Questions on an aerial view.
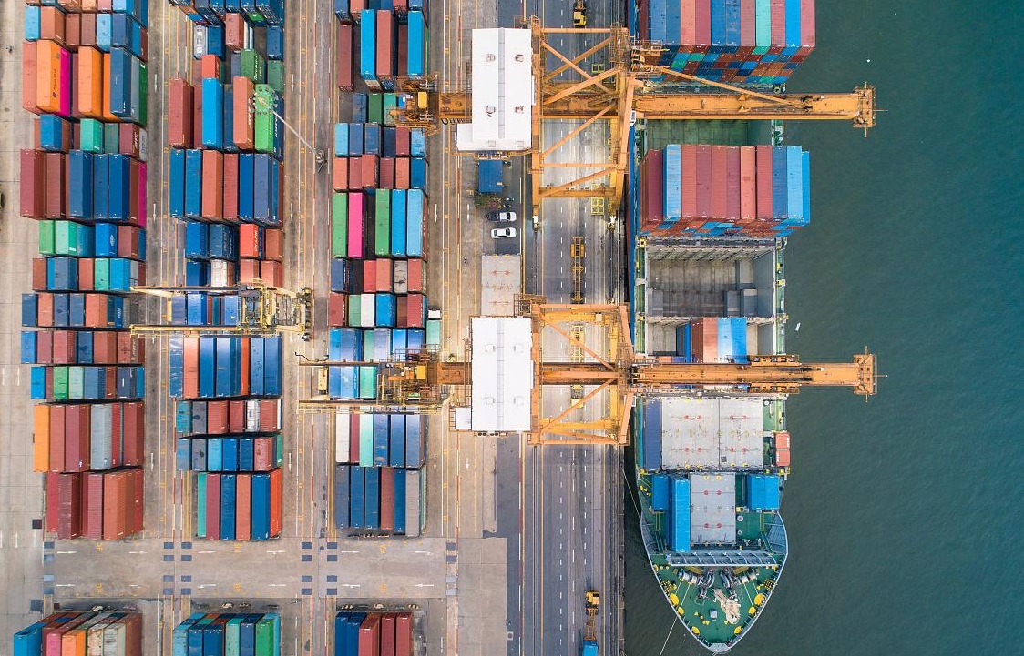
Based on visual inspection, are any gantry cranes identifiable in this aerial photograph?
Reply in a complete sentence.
Yes, a gantry crane can be made out from above.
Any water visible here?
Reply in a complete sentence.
Yes, the picture does contain water.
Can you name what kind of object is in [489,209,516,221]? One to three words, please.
vehicle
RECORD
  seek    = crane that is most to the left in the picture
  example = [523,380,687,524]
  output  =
[132,284,310,342]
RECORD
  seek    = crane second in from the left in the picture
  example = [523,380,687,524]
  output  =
[299,357,458,414]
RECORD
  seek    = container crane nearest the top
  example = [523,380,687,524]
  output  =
[391,8,890,241]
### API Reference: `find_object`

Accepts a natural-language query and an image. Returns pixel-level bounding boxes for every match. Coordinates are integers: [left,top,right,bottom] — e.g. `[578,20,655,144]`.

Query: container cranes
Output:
[390,290,891,456]
[299,357,458,414]
[391,8,890,241]
[132,284,310,342]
